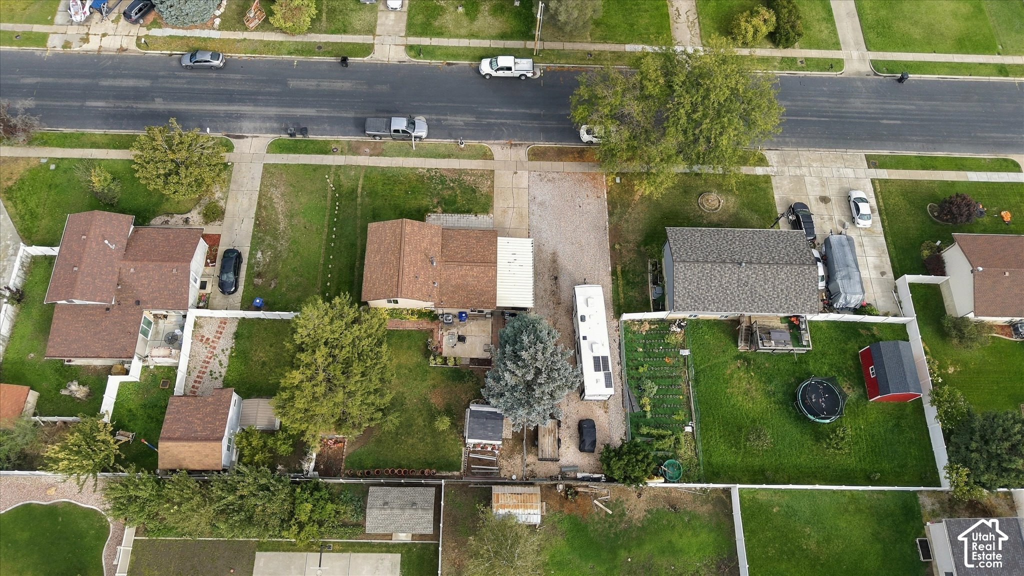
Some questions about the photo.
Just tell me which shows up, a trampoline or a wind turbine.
trampoline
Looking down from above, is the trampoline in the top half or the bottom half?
bottom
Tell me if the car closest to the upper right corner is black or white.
white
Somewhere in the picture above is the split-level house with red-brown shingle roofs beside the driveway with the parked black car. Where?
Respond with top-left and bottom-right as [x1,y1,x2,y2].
[41,210,209,364]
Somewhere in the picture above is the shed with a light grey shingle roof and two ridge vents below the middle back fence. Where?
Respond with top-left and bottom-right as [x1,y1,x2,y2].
[365,485,436,536]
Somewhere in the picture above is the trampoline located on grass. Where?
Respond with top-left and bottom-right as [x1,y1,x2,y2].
[791,375,851,422]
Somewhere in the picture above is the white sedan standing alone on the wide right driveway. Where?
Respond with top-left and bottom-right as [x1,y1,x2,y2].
[850,187,879,228]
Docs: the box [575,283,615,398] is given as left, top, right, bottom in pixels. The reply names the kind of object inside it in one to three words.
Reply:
trailer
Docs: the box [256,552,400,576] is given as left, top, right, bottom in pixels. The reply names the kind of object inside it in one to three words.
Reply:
sports court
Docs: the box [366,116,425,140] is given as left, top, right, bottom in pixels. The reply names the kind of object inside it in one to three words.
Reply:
truck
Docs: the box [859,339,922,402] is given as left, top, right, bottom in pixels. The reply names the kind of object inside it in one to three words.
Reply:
shed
